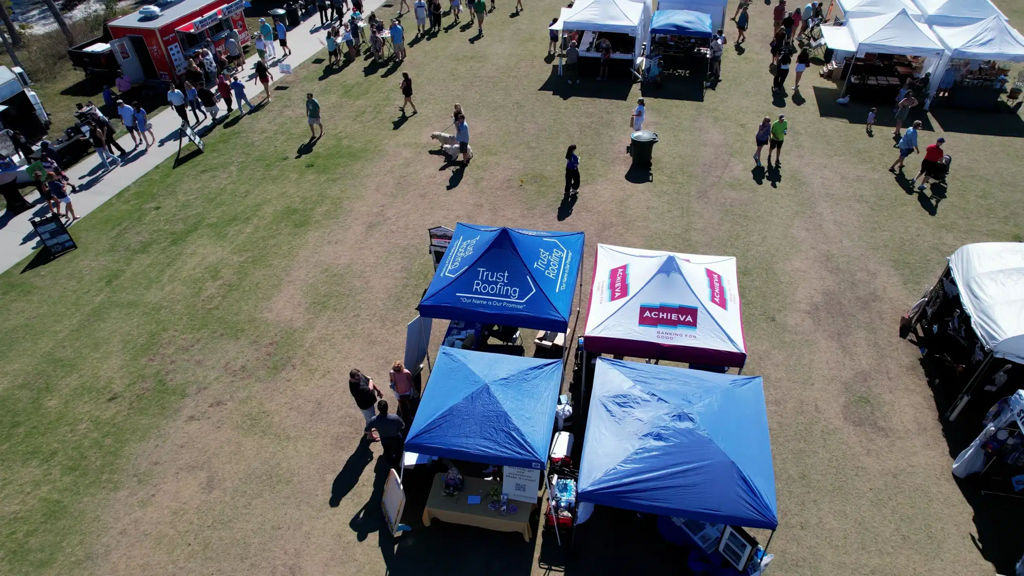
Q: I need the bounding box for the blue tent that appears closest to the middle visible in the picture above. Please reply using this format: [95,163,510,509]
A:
[420,223,585,401]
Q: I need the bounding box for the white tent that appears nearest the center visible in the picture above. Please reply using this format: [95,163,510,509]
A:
[578,244,747,417]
